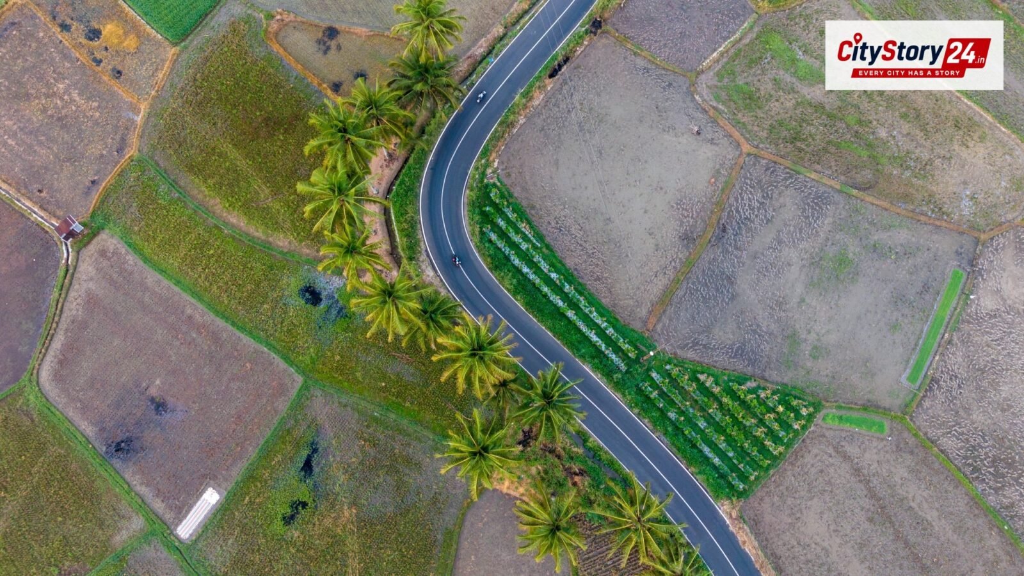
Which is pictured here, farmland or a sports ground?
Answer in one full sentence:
This image shows farmland.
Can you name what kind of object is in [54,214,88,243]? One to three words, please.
shed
